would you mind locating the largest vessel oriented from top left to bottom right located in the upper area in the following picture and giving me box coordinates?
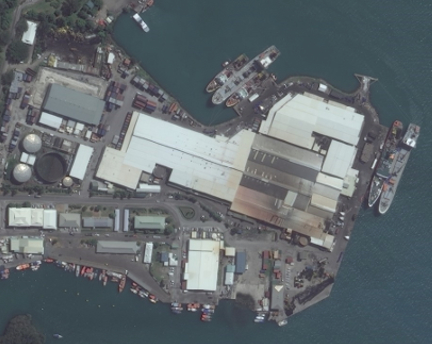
[134,12,148,31]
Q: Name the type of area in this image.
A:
port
